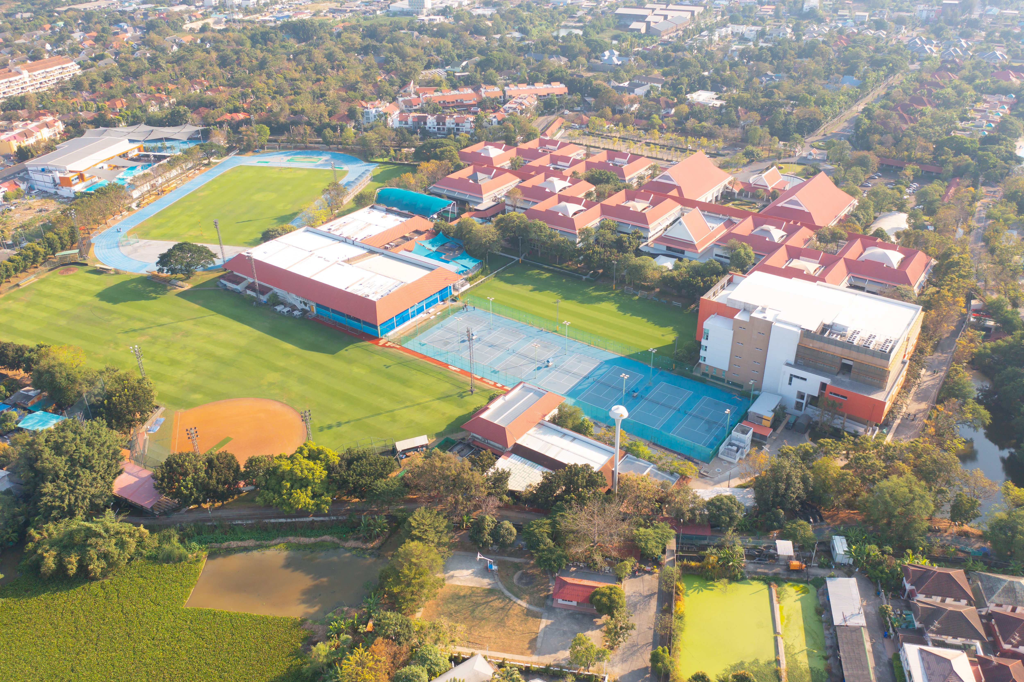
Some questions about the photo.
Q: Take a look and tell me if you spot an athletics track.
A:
Yes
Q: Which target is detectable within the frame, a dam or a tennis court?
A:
tennis court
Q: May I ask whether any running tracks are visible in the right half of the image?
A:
No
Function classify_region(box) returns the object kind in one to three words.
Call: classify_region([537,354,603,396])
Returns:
tennis court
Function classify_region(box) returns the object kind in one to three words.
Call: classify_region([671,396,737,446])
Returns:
tennis court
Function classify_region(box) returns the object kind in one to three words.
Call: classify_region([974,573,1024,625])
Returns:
house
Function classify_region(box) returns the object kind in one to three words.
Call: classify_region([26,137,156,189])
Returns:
building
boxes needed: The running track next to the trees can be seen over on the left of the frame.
[89,151,367,274]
